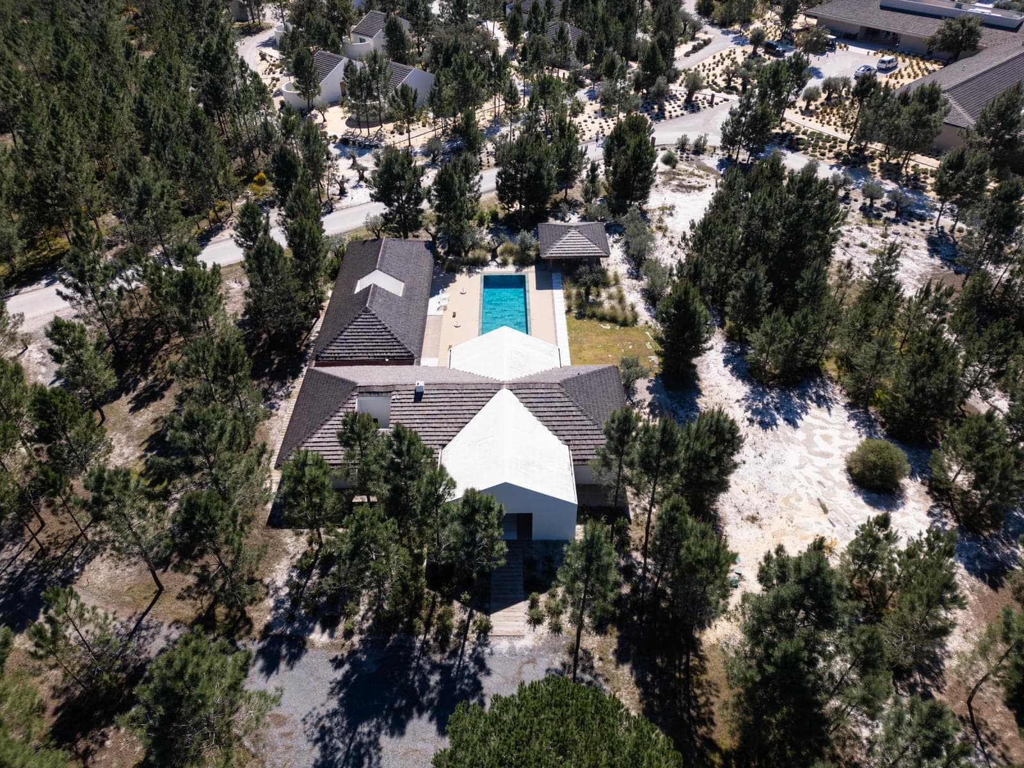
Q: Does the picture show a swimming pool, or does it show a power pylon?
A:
swimming pool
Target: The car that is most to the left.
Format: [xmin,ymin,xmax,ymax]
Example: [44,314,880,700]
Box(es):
[763,41,790,55]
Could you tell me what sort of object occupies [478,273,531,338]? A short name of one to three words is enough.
swimming pool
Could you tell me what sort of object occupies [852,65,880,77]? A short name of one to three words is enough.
vehicle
